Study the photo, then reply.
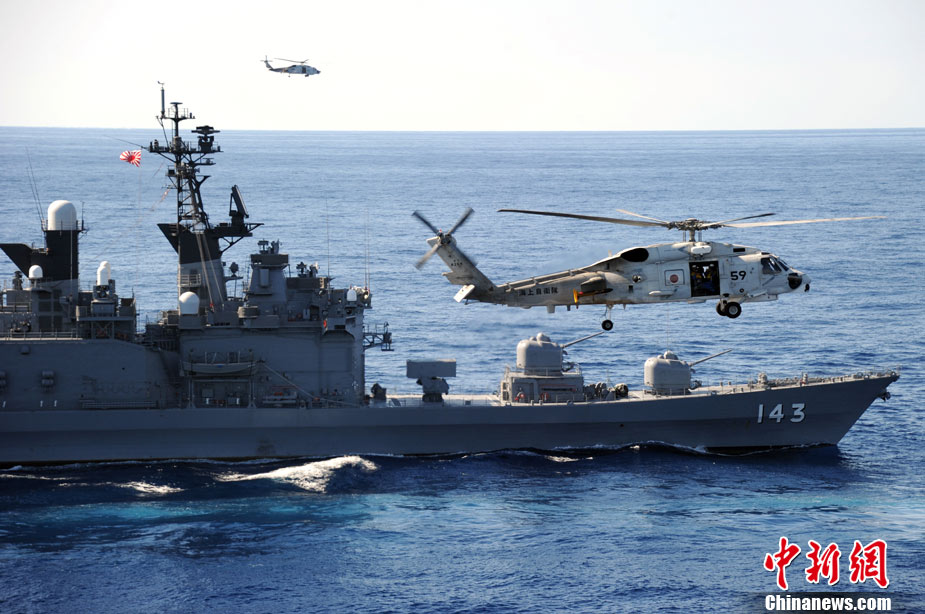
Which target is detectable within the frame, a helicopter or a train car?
helicopter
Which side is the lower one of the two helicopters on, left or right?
right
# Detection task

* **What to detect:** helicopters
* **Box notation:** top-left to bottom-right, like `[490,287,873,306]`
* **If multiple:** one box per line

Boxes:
[411,207,883,330]
[260,55,320,77]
